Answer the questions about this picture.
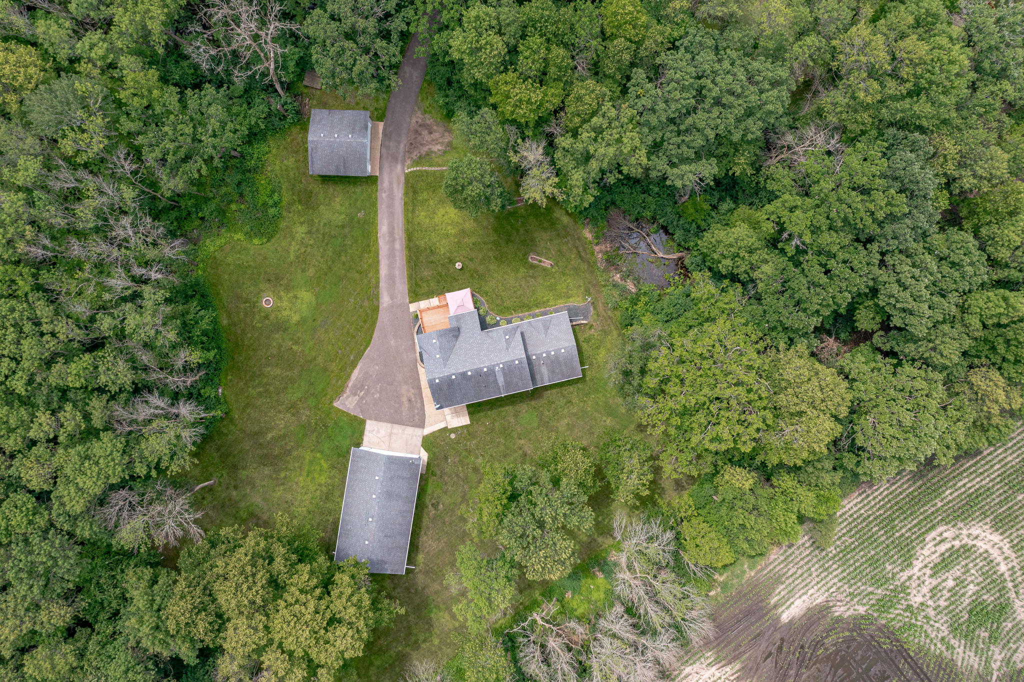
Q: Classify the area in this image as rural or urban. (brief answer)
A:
rural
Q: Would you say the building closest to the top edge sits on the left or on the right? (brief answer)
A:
left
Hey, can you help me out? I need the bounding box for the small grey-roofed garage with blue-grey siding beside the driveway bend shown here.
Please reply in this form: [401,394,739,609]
[307,109,374,179]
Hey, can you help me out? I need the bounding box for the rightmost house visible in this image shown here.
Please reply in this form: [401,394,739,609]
[416,309,587,412]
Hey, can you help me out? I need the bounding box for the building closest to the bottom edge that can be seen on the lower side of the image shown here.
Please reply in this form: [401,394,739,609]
[334,447,423,575]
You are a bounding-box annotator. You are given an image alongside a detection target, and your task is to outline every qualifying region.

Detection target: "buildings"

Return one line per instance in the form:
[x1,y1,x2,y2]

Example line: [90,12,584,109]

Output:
[307,109,374,179]
[334,447,423,575]
[416,309,587,412]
